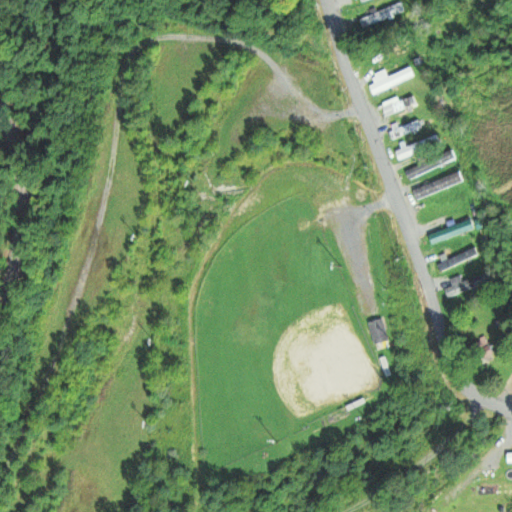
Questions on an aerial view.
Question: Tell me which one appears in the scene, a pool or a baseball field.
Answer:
baseball field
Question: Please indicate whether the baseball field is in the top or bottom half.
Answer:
bottom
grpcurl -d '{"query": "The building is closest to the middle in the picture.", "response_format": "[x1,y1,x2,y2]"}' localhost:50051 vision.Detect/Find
[368,319,390,351]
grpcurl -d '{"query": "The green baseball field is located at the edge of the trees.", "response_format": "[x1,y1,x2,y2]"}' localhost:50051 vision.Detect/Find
[196,193,384,474]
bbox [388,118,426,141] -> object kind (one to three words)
house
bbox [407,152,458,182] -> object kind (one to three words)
house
